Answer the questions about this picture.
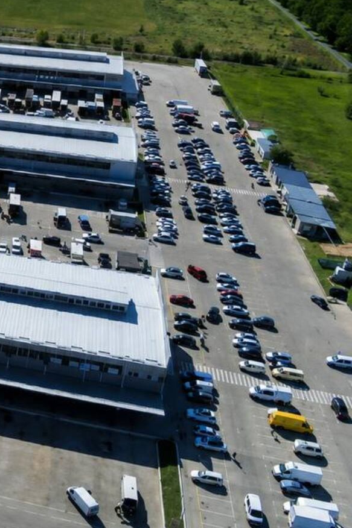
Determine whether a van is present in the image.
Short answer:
Yes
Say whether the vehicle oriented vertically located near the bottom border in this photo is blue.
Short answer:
No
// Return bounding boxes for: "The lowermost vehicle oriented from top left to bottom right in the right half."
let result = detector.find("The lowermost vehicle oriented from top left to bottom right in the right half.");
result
[238,494,269,526]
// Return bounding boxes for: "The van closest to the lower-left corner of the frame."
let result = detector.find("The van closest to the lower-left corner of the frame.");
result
[60,486,108,525]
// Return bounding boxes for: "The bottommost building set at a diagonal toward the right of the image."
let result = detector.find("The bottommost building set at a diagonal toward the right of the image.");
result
[249,163,347,241]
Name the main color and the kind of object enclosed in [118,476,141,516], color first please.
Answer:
white vehicle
